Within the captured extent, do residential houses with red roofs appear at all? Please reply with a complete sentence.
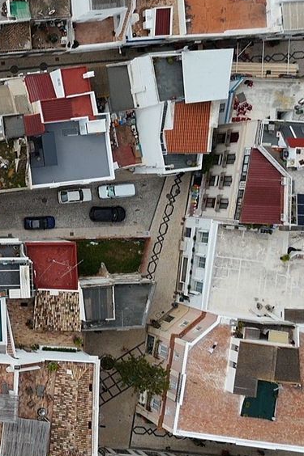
Yes, I can see a residential house with a red roof in this picture.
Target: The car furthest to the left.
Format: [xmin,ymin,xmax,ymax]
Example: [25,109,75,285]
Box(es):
[23,216,55,230]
